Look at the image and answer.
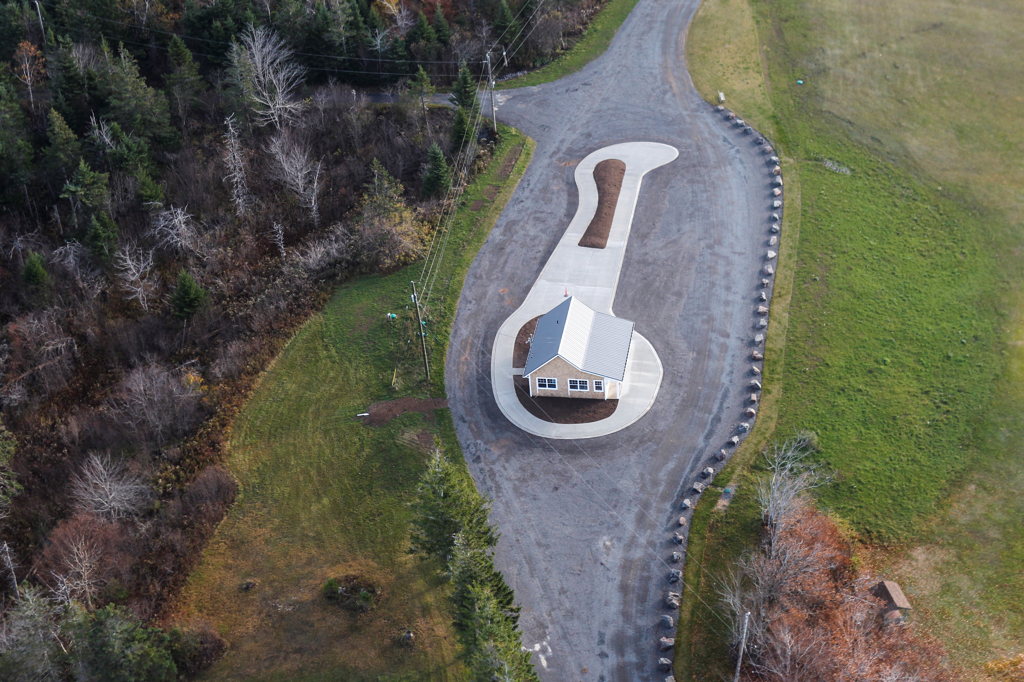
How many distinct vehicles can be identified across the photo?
none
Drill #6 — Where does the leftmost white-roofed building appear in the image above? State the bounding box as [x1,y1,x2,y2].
[522,296,634,399]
